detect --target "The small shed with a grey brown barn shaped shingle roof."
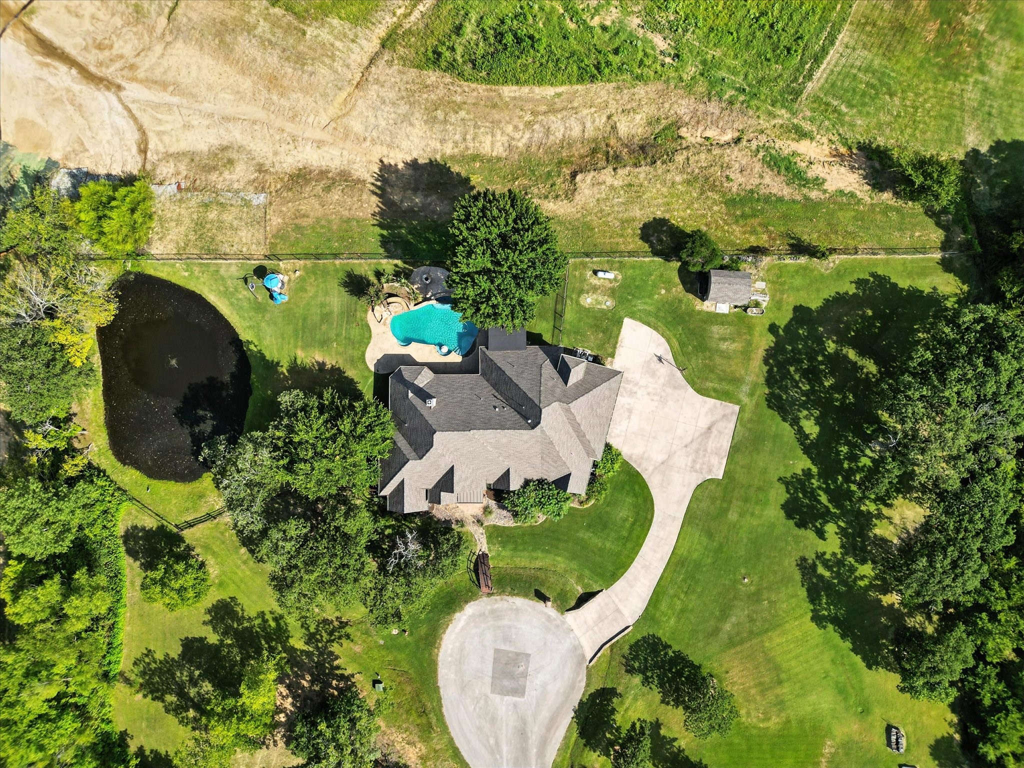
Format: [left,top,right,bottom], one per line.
[705,270,752,306]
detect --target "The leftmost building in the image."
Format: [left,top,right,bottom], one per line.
[378,327,624,513]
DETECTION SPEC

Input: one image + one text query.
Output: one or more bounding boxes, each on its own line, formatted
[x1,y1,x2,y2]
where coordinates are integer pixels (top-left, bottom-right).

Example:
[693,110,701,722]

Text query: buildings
[705,270,752,306]
[378,327,624,513]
